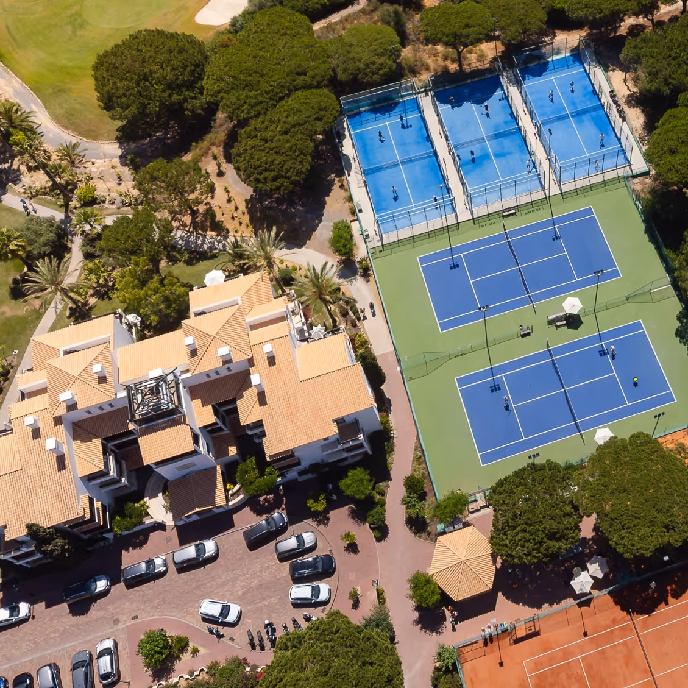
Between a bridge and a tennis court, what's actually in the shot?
tennis court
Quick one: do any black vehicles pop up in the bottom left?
Yes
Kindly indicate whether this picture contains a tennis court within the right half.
Yes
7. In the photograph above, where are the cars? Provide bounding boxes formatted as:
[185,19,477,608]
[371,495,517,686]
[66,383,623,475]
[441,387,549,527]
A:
[7,669,35,688]
[119,555,165,584]
[171,539,217,569]
[287,581,330,605]
[240,512,287,548]
[288,552,334,578]
[273,531,317,559]
[68,649,94,688]
[0,600,30,626]
[195,598,242,626]
[61,574,107,605]
[35,659,61,688]
[92,637,118,687]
